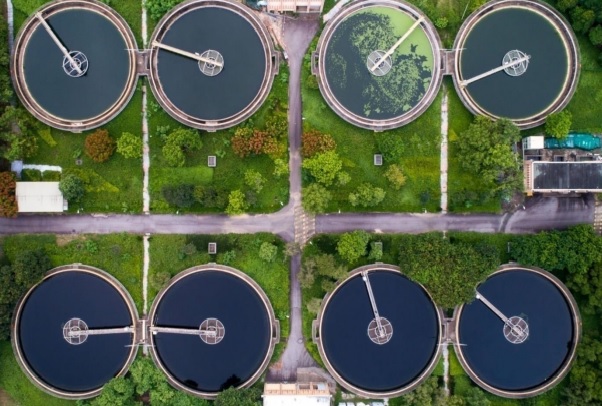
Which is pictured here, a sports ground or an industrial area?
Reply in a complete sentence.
It's an industrial area.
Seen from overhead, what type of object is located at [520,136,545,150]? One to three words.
shed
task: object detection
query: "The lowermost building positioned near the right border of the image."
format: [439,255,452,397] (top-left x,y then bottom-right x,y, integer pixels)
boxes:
[517,162,602,194]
